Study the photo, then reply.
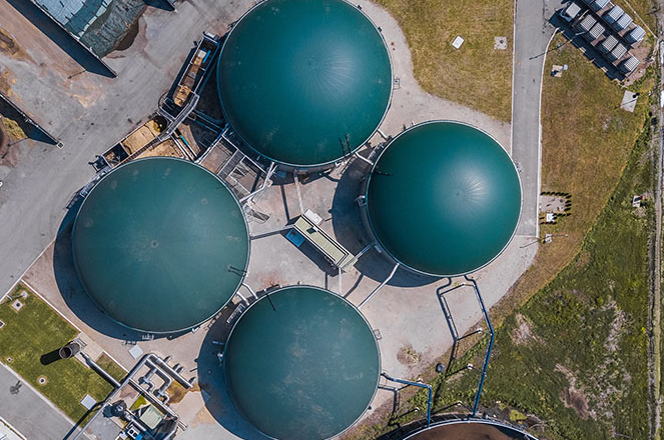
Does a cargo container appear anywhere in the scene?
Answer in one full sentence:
Yes, a cargo container can be made out from above.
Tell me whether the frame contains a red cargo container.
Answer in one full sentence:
No, there isn't any red cargo container down there.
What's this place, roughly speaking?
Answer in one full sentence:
This image shows an industrial area.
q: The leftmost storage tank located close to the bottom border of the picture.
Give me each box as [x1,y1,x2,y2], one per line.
[218,283,386,440]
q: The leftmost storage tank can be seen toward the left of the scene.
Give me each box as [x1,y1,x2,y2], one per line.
[69,157,251,342]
